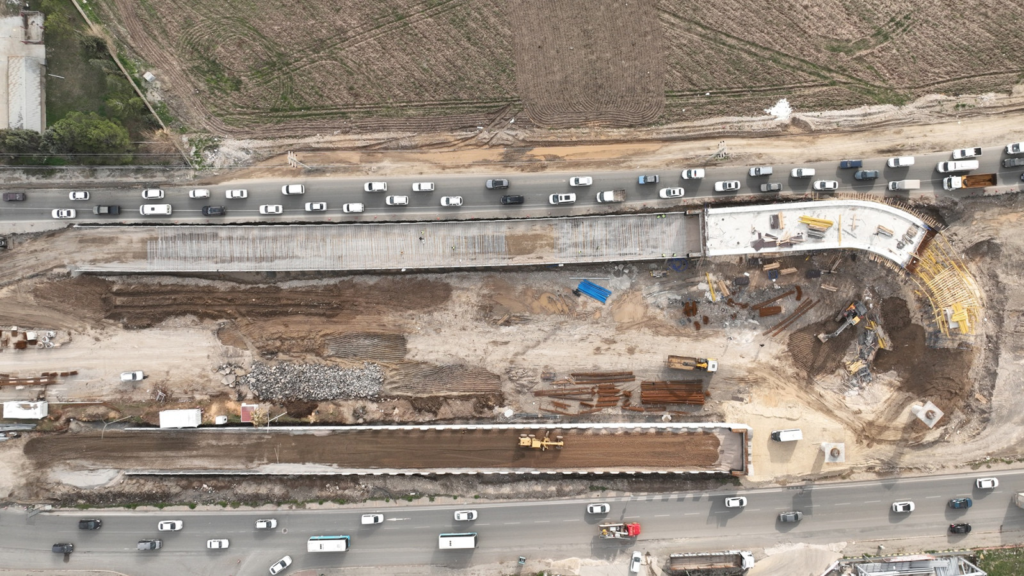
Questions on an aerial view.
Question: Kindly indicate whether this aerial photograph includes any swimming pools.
No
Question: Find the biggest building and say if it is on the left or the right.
left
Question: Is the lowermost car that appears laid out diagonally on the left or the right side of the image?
left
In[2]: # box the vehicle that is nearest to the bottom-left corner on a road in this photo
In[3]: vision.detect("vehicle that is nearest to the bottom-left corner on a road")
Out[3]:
[52,542,75,554]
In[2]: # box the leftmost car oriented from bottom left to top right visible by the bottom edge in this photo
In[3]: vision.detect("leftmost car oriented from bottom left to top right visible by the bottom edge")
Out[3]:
[268,555,292,576]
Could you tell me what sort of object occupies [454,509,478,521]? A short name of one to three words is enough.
vehicle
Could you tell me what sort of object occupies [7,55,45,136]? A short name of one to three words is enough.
building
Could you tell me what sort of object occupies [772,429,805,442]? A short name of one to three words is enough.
vehicle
